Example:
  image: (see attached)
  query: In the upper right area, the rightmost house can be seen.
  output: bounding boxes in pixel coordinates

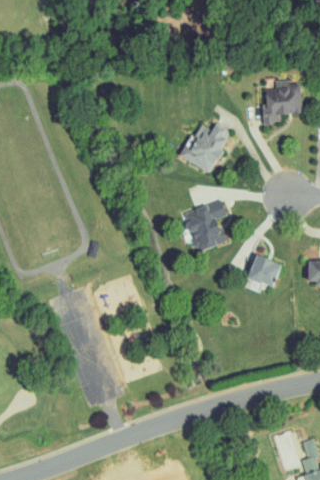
[264,79,304,126]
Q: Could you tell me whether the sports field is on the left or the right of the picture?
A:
left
